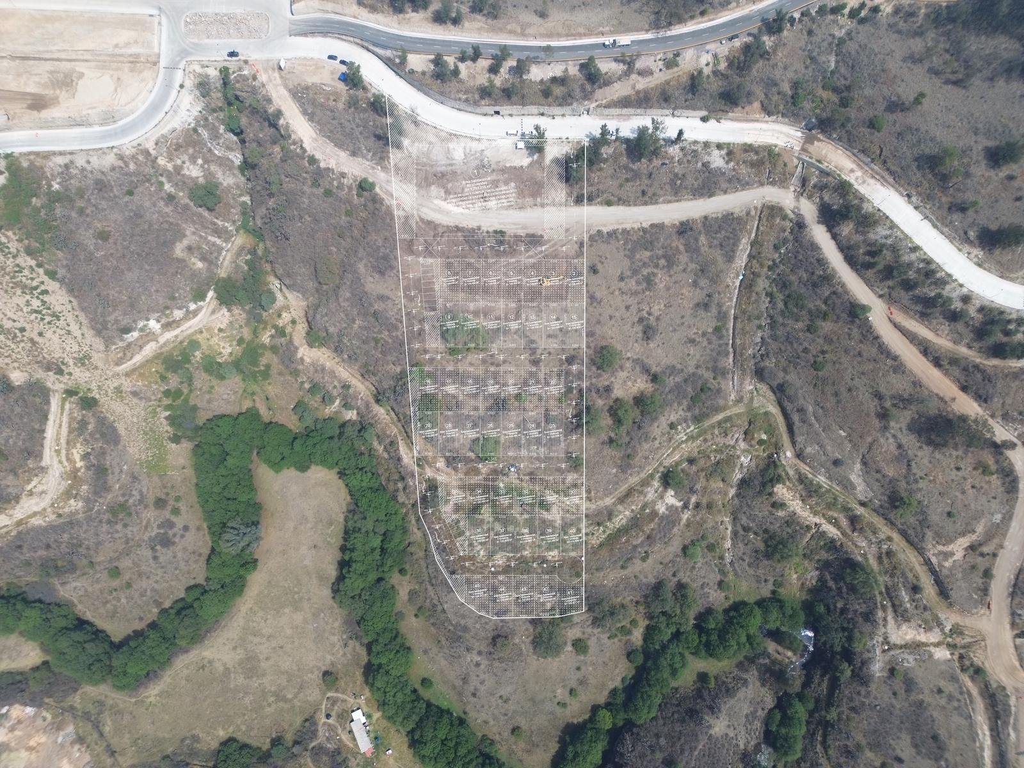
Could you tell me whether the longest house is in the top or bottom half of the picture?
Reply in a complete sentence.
The longest house is in the bottom half of the image.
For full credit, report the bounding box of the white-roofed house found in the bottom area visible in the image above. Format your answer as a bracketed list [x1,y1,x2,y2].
[345,706,377,753]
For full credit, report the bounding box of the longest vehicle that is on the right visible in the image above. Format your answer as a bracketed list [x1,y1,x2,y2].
[605,37,632,49]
